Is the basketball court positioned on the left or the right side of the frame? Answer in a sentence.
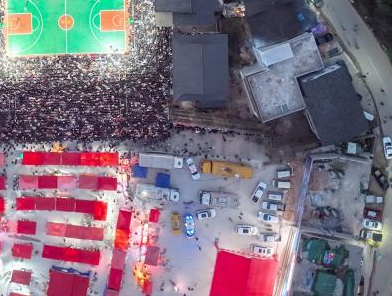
The basketball court appears in the left half of the scene.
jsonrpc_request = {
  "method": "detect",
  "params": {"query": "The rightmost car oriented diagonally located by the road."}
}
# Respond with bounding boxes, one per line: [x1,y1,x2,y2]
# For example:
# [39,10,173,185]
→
[371,167,388,187]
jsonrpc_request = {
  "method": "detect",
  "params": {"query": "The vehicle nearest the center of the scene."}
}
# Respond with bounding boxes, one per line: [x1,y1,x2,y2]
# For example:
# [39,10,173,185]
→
[185,158,198,178]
